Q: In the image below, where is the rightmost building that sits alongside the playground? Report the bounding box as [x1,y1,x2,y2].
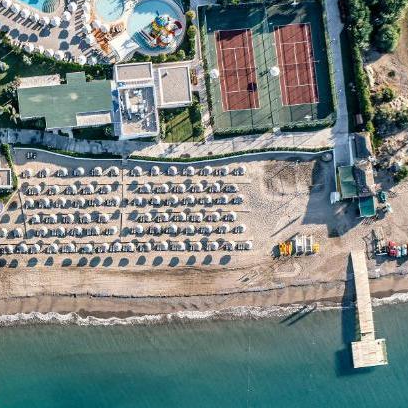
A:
[156,66,193,108]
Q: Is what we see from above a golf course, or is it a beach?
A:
beach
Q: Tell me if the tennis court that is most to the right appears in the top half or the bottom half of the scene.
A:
top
